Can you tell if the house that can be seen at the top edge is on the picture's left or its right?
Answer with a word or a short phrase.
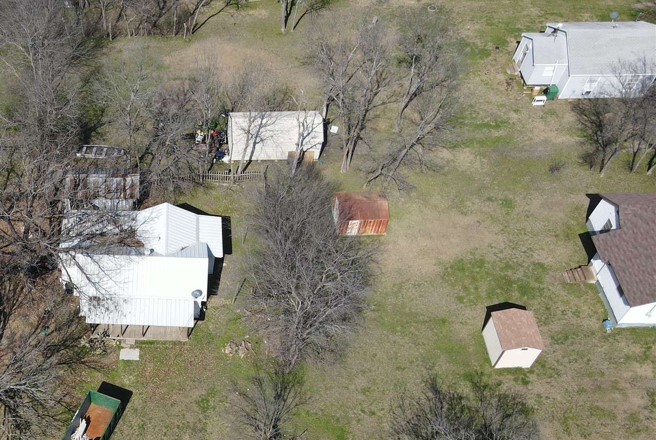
right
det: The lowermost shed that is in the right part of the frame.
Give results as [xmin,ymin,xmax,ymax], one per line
[477,307,548,369]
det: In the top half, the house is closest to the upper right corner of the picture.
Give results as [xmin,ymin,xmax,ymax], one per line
[505,3,656,97]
